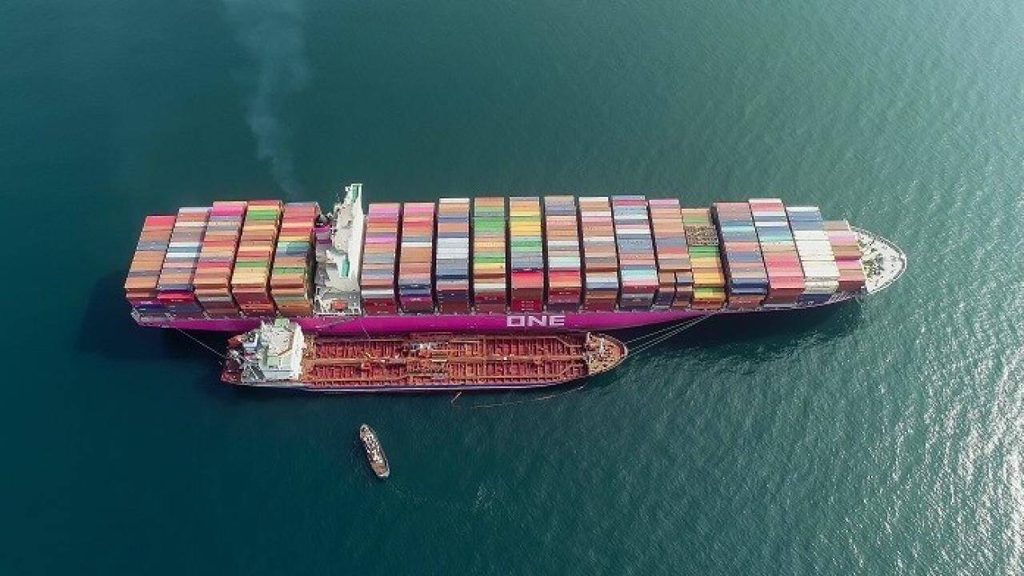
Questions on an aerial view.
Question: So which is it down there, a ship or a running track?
ship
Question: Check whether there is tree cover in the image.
No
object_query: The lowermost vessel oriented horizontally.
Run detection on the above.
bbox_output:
[220,322,630,398]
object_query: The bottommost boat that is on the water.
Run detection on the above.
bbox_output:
[357,421,393,478]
